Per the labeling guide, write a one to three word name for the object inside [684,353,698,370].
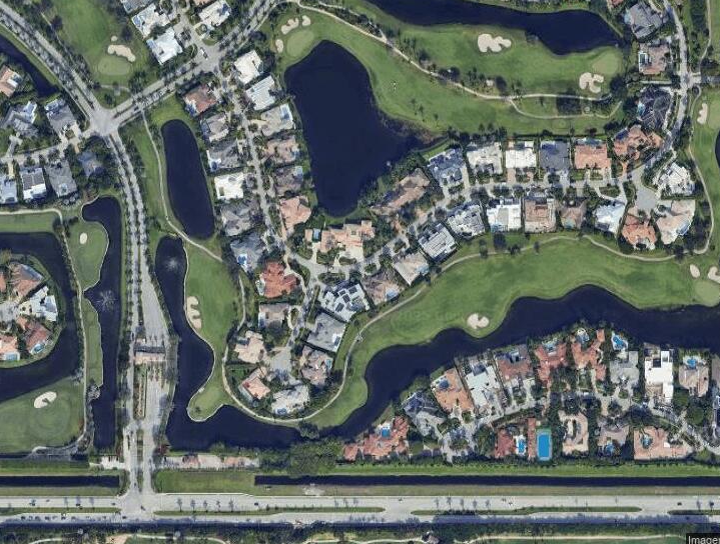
swimming pool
